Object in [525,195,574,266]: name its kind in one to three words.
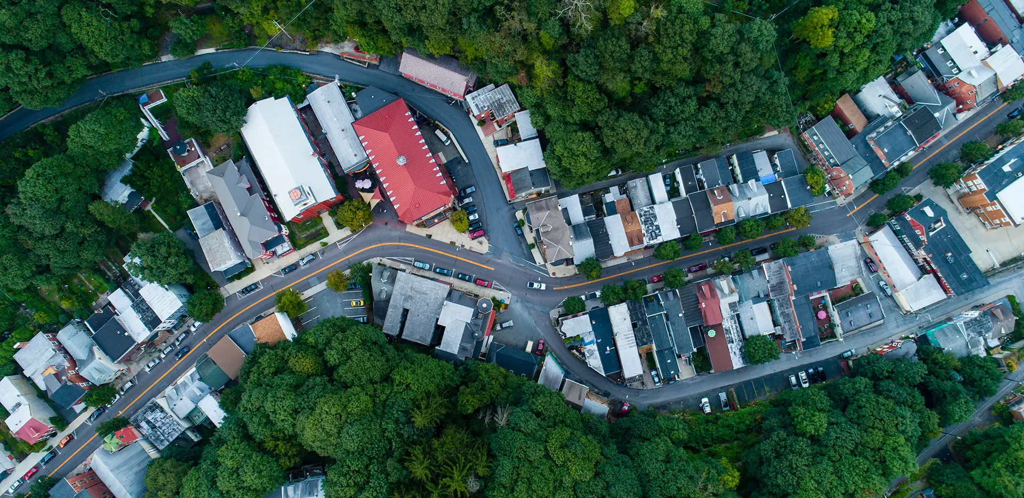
house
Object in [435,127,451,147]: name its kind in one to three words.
vehicle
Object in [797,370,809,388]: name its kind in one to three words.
vehicle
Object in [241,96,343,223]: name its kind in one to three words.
building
